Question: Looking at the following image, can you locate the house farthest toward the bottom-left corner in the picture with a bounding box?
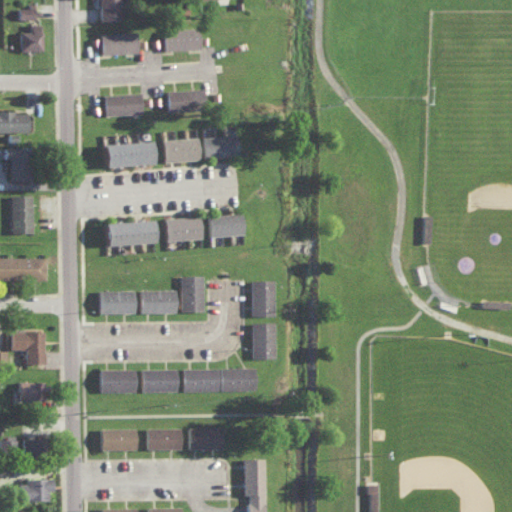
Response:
[21,480,55,502]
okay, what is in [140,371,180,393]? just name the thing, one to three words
building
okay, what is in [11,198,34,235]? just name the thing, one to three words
house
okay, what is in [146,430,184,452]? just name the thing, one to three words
building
